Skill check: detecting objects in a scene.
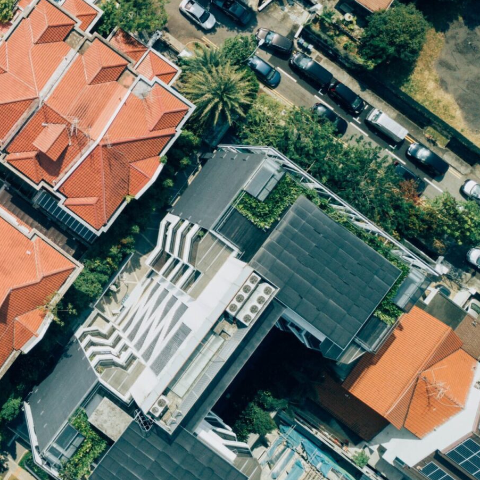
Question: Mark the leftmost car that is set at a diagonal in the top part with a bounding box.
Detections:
[173,0,219,34]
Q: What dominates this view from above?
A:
buildings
